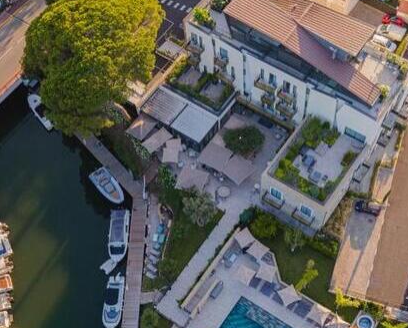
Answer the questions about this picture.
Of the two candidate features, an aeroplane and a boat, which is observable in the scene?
boat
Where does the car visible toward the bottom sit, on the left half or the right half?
right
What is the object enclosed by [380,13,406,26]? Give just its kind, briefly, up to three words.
vehicle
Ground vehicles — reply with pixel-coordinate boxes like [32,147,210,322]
[370,29,399,54]
[355,198,384,218]
[378,22,408,45]
[380,13,406,26]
